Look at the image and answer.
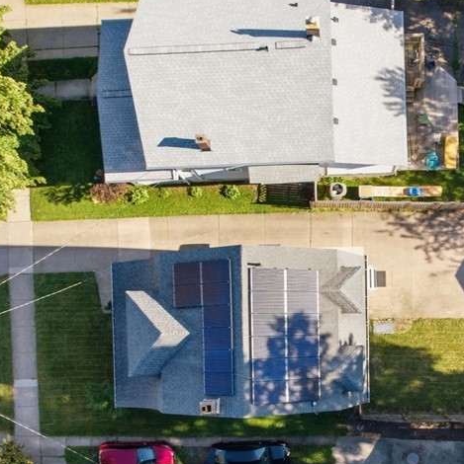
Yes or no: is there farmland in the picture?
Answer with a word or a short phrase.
No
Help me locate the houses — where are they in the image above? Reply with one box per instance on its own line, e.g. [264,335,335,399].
[110,246,385,417]
[97,0,405,194]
